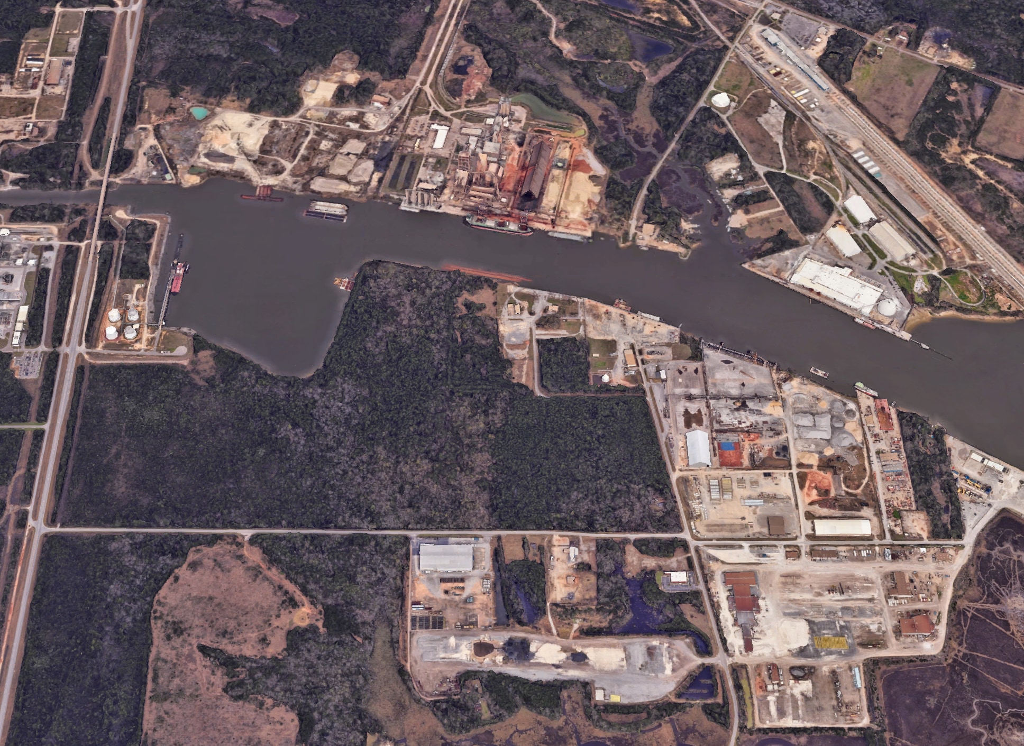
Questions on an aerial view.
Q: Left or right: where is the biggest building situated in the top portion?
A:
right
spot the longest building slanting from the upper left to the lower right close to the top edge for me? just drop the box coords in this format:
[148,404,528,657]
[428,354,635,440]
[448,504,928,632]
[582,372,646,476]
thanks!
[760,28,829,92]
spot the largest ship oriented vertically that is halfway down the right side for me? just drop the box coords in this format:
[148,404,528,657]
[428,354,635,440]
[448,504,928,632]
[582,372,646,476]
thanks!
[874,399,893,430]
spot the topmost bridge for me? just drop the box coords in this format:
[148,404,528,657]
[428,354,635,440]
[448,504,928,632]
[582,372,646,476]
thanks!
[88,131,113,260]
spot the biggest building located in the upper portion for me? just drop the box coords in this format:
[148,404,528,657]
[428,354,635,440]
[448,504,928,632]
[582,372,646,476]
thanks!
[789,259,883,314]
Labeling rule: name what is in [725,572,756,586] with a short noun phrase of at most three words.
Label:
building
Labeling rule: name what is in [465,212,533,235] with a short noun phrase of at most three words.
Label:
ship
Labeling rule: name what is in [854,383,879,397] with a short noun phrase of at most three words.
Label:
ship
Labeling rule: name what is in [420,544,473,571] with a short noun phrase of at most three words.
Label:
building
